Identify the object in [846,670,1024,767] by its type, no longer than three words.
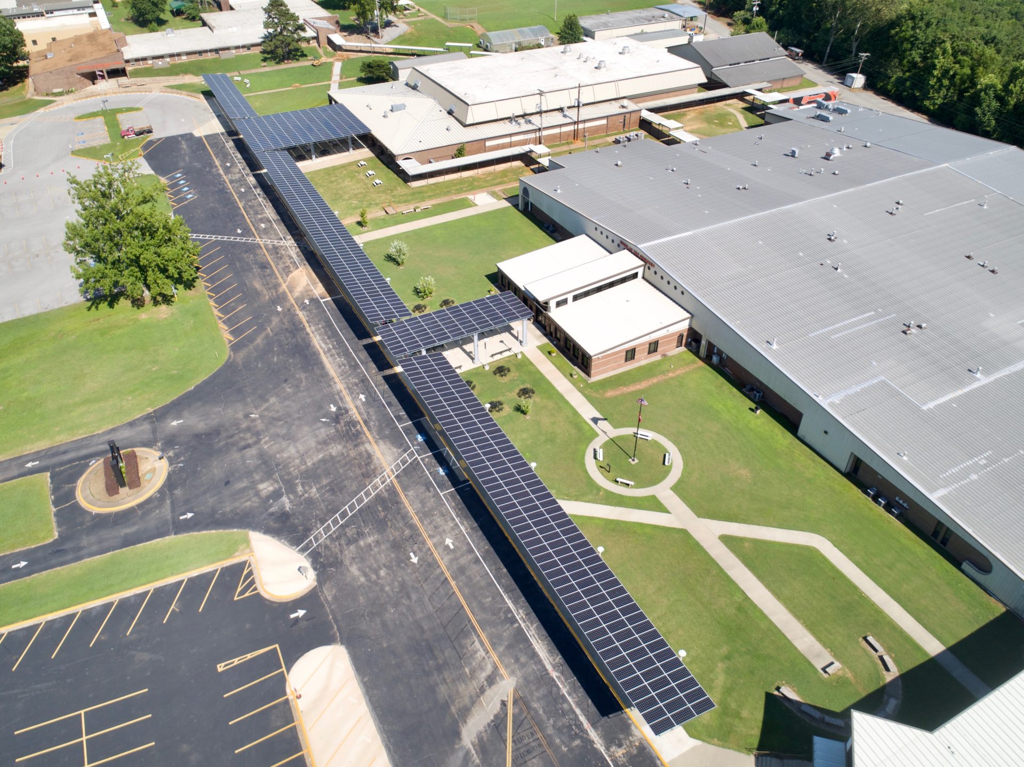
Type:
building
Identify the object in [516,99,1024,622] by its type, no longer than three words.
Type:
building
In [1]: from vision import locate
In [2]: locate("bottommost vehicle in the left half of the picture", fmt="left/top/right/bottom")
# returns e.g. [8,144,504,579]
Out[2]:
[118,122,152,138]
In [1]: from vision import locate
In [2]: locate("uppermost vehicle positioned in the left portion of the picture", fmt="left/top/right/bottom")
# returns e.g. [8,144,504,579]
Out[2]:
[311,53,331,65]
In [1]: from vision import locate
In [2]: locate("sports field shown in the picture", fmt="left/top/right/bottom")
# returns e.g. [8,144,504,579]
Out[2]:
[328,0,682,47]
